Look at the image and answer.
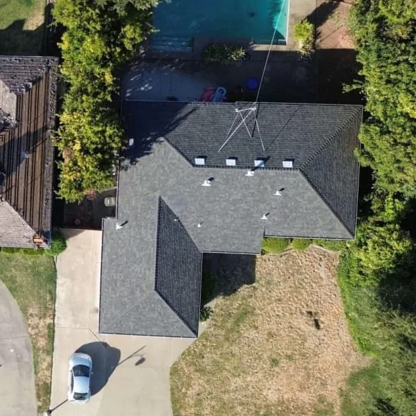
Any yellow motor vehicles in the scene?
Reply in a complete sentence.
No, there's no yellow motor vehicle here.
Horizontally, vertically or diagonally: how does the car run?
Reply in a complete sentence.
The car is oriented vertically.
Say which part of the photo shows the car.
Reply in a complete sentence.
The car appears toward the bottom left of the photo.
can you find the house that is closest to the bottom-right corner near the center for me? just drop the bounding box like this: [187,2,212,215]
[97,99,363,339]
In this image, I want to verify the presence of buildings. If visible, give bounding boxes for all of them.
[0,54,60,250]
[97,99,363,339]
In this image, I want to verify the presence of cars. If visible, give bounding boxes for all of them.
[68,351,95,403]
